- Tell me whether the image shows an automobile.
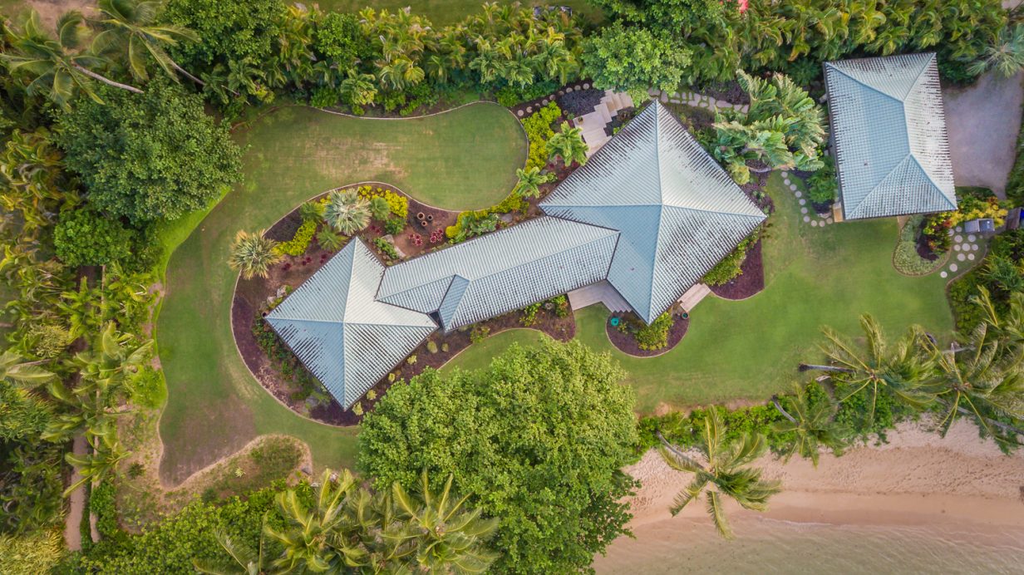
No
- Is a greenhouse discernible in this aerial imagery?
No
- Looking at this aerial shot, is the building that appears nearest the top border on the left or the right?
right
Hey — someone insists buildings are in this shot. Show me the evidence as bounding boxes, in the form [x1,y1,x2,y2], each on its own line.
[818,50,959,223]
[264,103,769,411]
